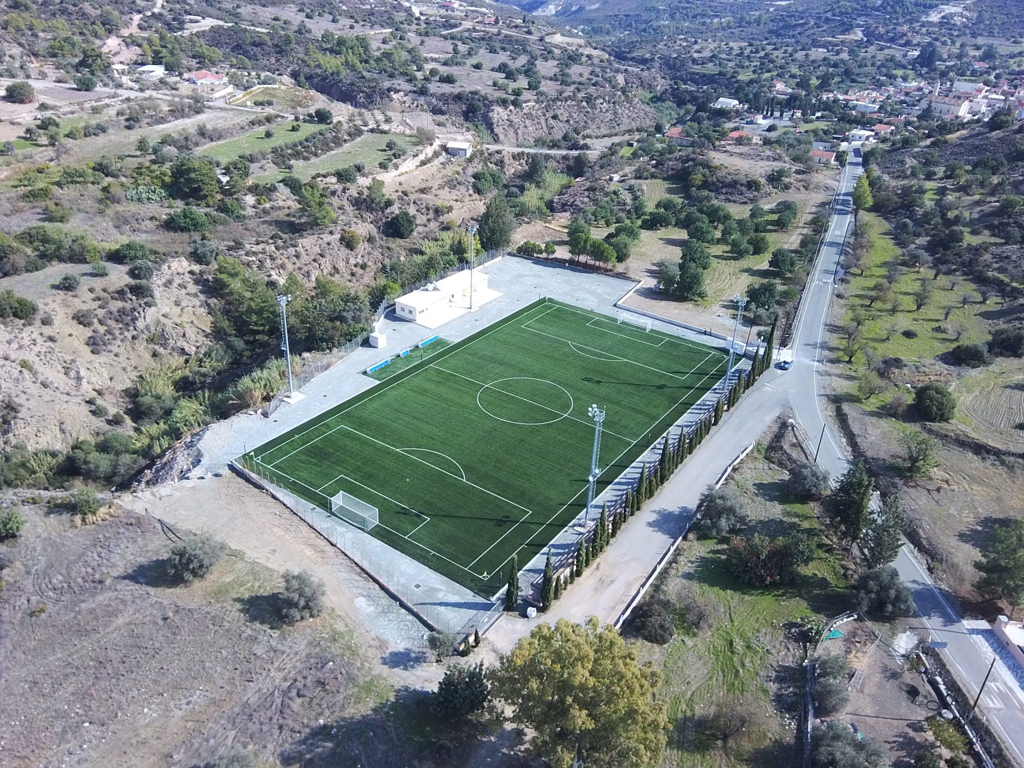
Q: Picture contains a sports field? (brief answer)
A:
Yes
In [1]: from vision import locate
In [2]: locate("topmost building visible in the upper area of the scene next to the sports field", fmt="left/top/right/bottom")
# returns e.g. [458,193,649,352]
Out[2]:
[391,269,506,329]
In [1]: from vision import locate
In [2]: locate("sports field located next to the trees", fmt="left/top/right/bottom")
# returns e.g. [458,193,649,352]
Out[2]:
[253,302,728,580]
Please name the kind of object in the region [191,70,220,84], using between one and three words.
house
